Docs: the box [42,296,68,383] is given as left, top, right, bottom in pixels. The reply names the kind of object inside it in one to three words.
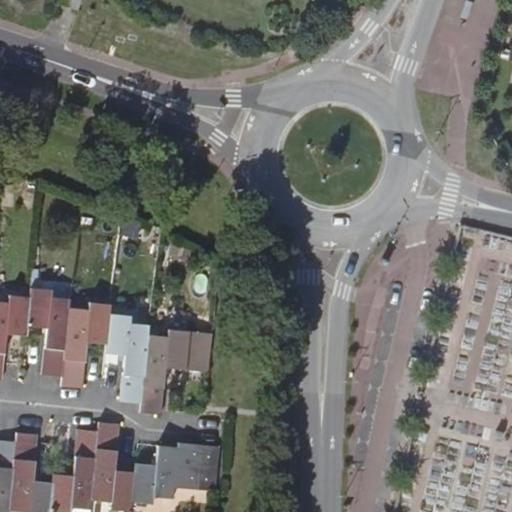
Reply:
house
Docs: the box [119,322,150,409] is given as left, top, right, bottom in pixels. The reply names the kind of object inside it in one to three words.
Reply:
house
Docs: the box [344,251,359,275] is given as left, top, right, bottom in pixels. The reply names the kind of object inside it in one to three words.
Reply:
car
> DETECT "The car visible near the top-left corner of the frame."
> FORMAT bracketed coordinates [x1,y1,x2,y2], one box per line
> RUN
[72,72,96,87]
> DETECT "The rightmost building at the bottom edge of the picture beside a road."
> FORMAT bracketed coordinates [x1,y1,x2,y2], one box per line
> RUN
[173,443,218,491]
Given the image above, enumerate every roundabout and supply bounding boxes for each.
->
[216,64,427,248]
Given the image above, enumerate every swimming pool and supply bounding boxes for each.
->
[194,274,208,297]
